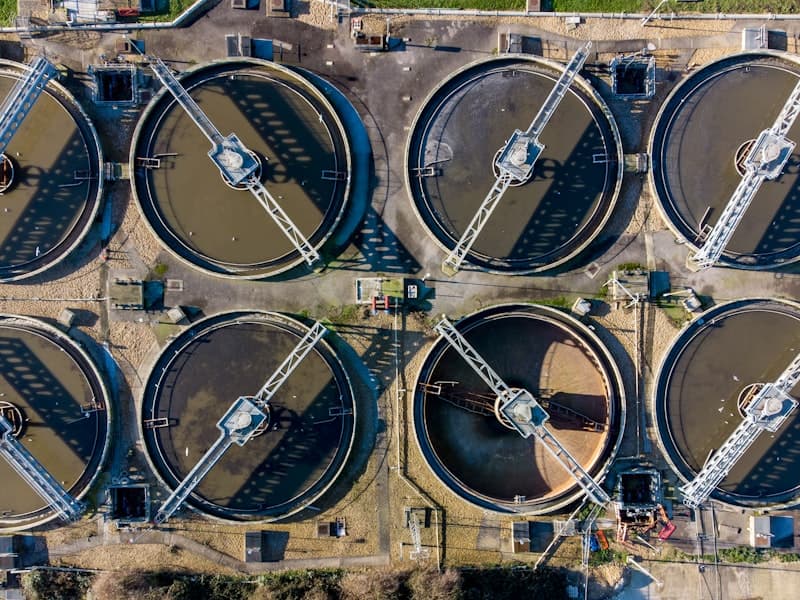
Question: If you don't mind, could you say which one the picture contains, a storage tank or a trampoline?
storage tank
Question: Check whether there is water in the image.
Yes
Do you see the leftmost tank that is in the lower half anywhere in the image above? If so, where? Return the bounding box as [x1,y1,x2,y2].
[0,314,113,531]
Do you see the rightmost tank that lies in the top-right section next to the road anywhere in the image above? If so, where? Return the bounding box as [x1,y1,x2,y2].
[645,48,800,271]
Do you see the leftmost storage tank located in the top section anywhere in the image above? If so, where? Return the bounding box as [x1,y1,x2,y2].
[0,60,105,279]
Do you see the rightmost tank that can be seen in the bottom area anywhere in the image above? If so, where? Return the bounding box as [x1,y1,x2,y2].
[651,297,800,510]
